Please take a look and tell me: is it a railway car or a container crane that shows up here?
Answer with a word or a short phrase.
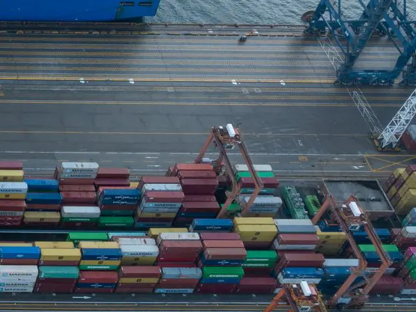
container crane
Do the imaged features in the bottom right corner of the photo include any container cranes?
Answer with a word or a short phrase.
Yes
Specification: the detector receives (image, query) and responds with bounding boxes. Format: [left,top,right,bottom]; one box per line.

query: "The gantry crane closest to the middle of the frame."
[194,122,268,220]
